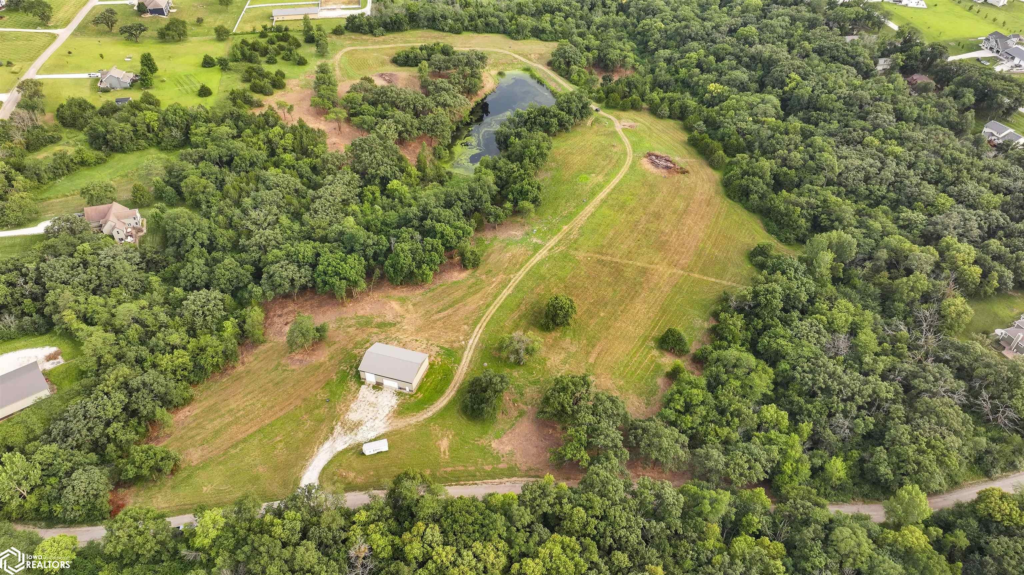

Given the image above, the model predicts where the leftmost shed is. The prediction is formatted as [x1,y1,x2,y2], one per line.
[0,359,53,420]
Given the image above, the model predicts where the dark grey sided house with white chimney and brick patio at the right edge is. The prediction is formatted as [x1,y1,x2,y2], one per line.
[972,304,1024,367]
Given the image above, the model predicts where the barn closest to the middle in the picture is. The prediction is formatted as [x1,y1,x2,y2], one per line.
[357,341,431,394]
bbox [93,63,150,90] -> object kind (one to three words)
house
